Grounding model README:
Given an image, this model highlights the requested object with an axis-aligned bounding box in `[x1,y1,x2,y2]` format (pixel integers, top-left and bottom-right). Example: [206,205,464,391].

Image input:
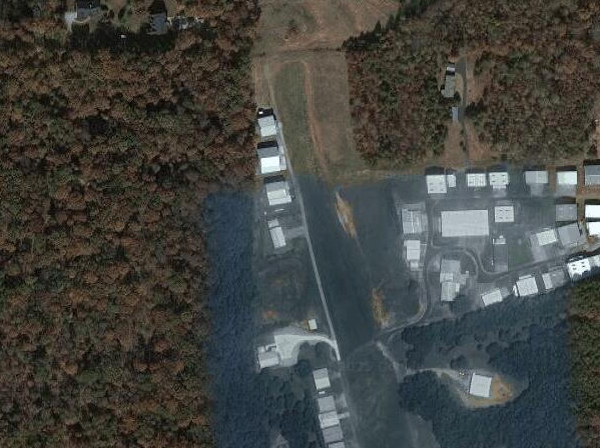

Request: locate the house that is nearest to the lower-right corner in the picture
[470,373,492,397]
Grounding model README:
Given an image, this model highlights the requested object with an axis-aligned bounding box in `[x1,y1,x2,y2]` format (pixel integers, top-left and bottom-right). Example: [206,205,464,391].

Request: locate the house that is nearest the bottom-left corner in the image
[259,344,279,368]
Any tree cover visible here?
Yes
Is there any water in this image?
No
